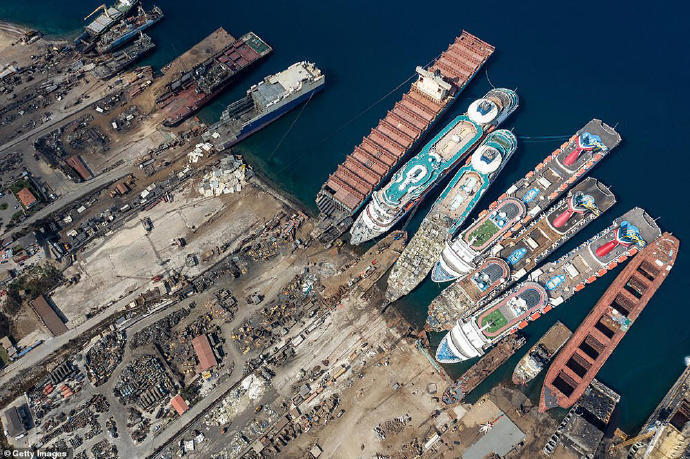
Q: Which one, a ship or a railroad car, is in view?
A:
ship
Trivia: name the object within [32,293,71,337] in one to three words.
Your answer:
building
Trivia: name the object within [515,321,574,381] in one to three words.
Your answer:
ship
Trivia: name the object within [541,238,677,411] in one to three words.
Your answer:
ship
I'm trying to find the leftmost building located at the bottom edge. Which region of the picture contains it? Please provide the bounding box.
[4,406,30,437]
